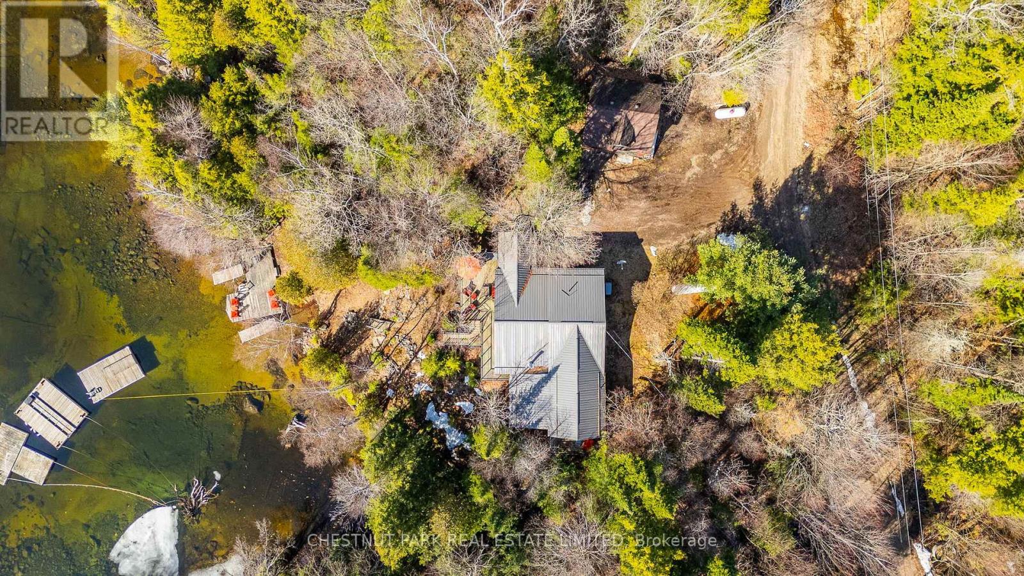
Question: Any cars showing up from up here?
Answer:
No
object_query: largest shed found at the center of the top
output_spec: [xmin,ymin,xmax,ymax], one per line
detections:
[582,86,660,162]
